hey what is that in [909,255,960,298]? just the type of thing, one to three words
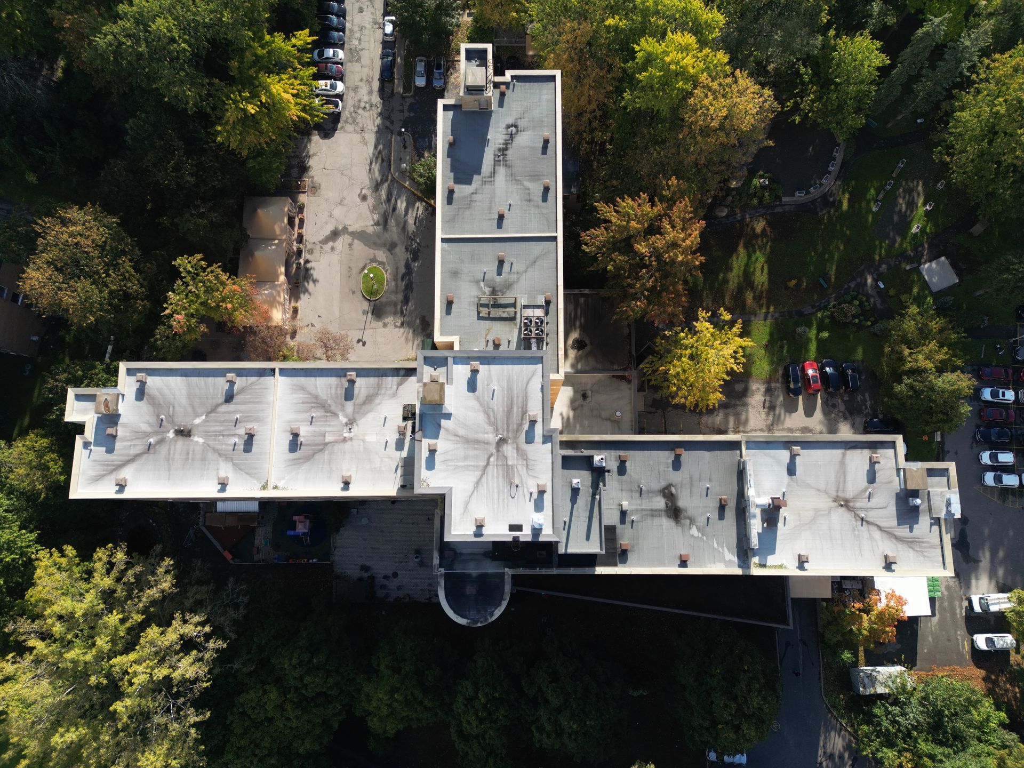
gazebo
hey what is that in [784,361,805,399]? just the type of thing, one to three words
car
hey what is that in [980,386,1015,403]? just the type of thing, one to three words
car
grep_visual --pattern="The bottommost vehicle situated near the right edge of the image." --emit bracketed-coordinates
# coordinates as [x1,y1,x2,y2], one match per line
[975,633,1016,652]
